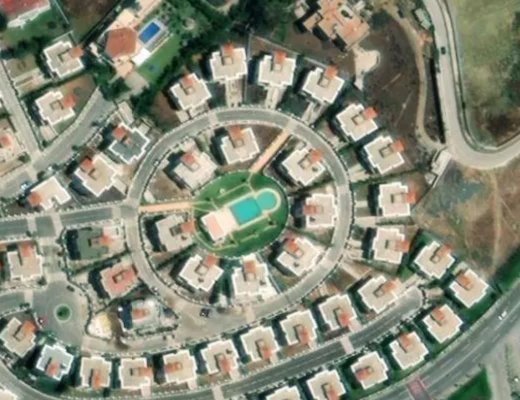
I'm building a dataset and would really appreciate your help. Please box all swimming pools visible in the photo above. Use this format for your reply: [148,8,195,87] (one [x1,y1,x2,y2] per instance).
[136,17,165,48]
[228,187,281,230]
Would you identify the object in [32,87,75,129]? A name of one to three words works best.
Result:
house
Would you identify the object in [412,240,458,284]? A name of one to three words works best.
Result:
house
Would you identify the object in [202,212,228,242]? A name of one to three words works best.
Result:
building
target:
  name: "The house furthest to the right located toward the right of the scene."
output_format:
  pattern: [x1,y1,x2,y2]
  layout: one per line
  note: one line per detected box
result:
[449,266,495,312]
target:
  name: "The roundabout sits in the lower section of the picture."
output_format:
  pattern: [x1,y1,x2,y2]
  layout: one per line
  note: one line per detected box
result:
[32,277,88,351]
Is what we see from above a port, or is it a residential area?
residential area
